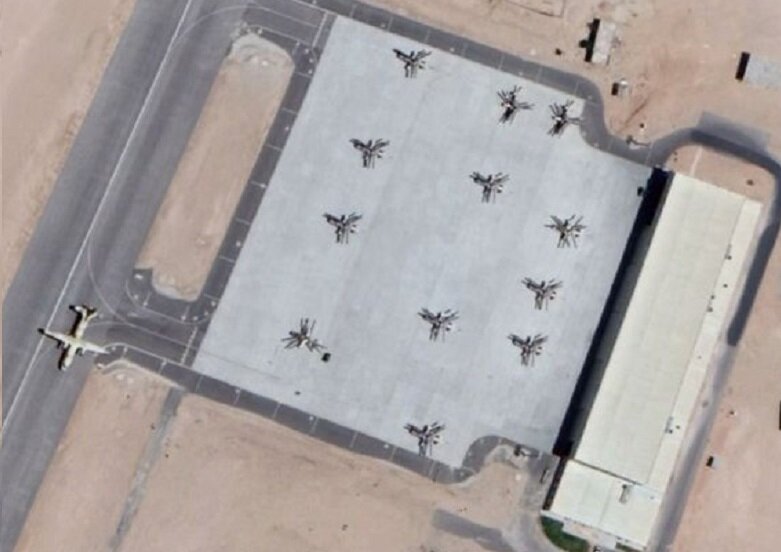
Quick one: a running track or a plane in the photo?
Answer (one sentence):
This aerial view contains a plane.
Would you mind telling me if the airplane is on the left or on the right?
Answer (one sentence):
You can find the airplane on the left side of the picture.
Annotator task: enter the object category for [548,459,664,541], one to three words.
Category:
building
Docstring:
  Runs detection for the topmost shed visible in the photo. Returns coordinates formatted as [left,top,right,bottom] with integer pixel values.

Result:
[588,20,617,65]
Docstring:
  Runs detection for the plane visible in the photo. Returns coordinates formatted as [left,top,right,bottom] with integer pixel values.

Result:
[46,306,108,371]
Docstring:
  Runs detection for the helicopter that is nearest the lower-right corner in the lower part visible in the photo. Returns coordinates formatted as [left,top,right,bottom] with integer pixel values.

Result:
[516,337,548,366]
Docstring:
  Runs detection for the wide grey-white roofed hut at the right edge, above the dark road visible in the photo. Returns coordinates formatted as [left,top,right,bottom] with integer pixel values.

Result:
[741,53,781,91]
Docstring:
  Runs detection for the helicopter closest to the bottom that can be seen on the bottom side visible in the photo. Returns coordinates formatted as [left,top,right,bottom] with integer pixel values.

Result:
[412,425,446,455]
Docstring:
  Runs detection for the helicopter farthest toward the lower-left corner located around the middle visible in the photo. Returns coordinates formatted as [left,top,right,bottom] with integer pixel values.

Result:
[291,319,325,349]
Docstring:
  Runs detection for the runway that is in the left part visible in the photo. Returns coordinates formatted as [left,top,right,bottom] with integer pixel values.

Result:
[0,0,238,552]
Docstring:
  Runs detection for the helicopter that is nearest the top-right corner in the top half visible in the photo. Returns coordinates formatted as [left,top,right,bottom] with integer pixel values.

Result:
[552,101,582,136]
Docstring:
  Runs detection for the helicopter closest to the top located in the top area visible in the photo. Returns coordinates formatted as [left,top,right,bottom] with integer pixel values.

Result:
[398,50,433,80]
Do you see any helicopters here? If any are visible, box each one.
[426,312,459,342]
[330,216,364,245]
[516,337,548,366]
[503,87,532,124]
[412,425,446,455]
[291,319,325,349]
[398,50,433,80]
[530,281,562,310]
[356,140,390,169]
[552,101,582,136]
[477,175,511,204]
[551,217,586,248]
